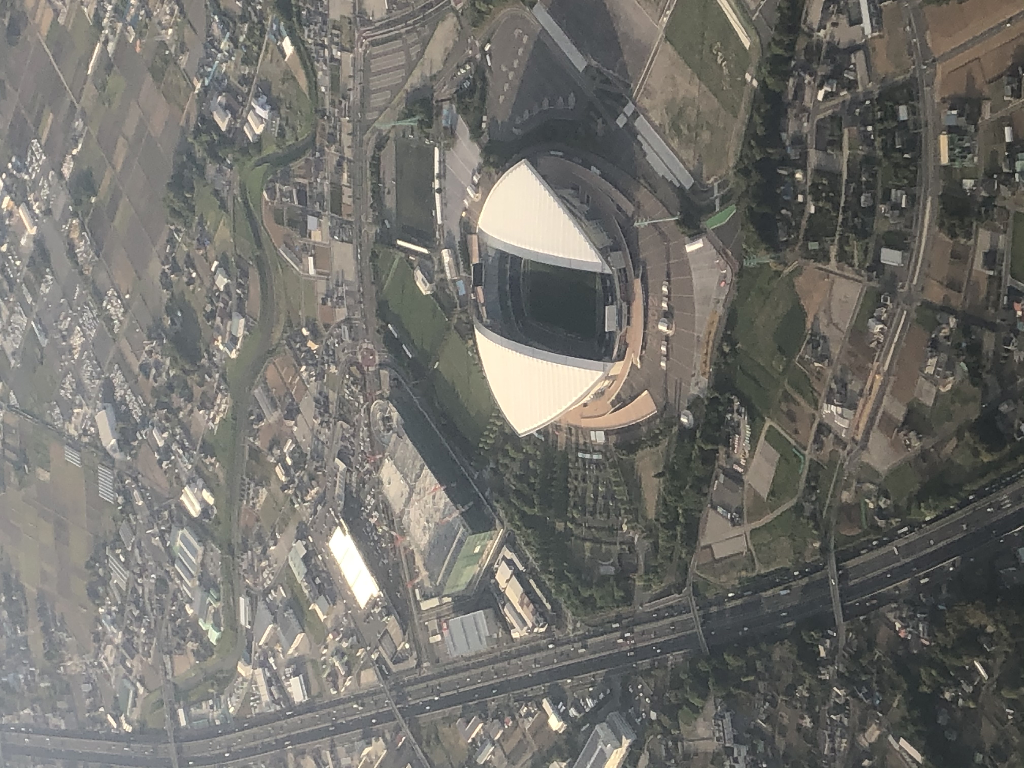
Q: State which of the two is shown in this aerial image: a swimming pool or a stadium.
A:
stadium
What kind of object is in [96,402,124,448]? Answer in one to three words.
building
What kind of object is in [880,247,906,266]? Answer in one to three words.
building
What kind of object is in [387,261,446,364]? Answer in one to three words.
sports field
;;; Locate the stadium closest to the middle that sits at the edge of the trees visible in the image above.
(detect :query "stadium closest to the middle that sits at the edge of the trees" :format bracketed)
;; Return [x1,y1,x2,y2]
[470,155,661,442]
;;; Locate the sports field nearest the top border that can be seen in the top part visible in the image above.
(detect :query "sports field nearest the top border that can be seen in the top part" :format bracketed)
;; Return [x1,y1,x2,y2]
[395,139,437,231]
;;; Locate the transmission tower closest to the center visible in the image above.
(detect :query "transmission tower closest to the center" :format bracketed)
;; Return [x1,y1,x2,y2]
[635,214,678,228]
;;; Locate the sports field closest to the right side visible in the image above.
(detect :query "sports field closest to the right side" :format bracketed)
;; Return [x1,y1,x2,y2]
[526,259,598,342]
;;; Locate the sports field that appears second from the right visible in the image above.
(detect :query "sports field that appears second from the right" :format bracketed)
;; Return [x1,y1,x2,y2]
[433,329,498,445]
